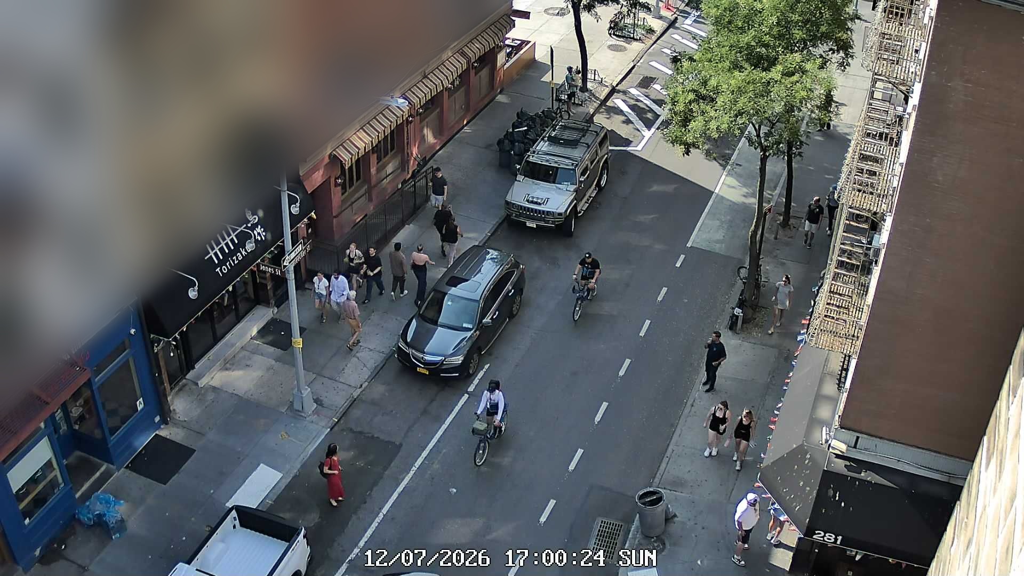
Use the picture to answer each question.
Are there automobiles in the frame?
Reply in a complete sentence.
Yes, there is an automobile in the image.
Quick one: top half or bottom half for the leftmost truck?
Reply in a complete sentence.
It is in the bottom half that the leftmost truck appears.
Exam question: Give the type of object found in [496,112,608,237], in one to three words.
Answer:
car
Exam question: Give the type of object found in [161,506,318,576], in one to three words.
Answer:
truck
